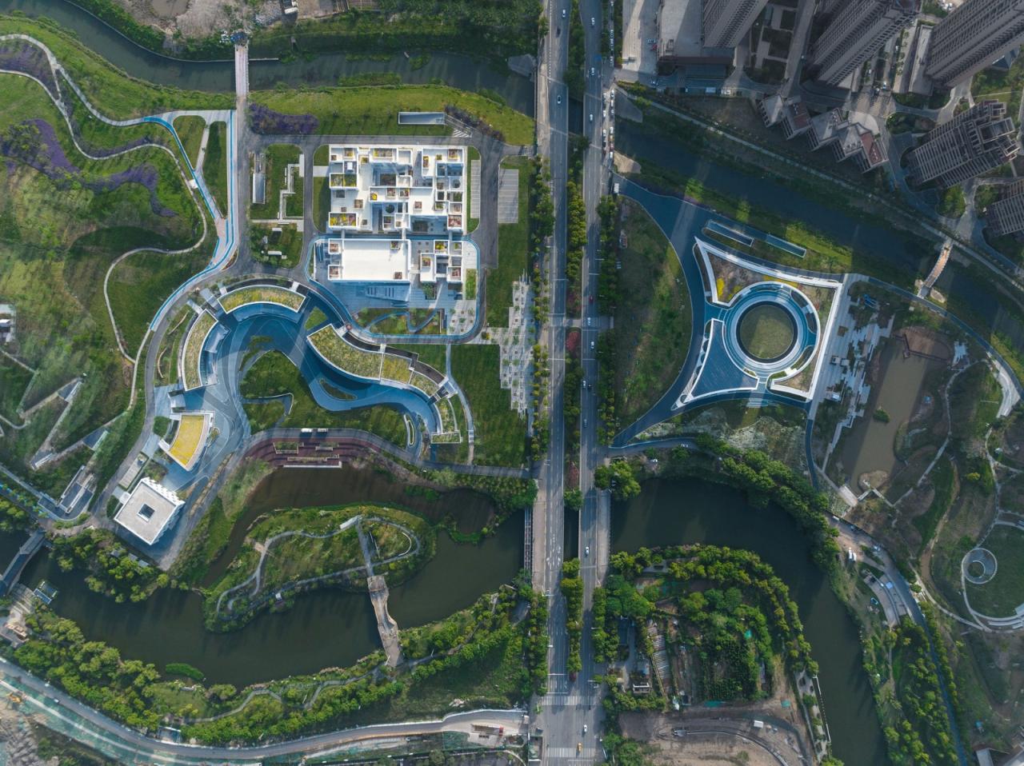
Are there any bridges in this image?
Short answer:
Yes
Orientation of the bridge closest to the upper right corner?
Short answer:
up and down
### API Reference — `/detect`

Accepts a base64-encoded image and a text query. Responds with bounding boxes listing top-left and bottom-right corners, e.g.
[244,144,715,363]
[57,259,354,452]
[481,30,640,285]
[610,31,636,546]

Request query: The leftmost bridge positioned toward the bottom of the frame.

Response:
[533,489,564,570]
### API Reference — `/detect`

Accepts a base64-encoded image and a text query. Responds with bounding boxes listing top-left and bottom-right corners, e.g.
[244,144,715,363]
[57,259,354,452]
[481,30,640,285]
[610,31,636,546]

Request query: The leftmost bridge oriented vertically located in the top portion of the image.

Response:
[537,72,570,149]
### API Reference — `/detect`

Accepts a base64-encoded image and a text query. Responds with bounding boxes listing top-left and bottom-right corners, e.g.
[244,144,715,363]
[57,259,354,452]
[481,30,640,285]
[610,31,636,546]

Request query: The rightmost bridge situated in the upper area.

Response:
[582,72,616,149]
